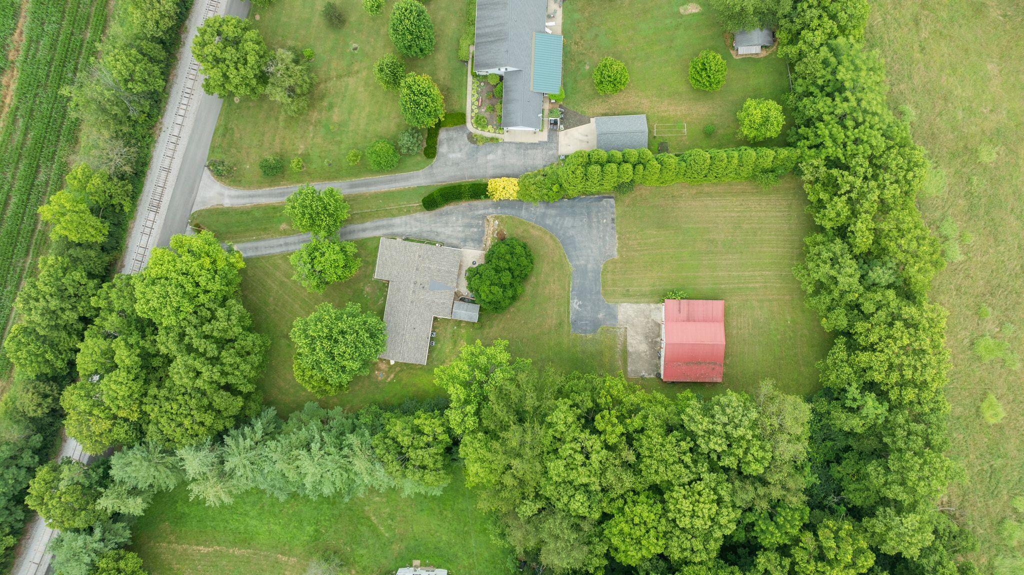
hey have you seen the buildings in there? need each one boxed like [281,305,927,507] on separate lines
[594,114,649,152]
[473,0,563,131]
[732,13,774,60]
[660,299,729,384]
[374,236,462,365]
[396,568,448,575]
